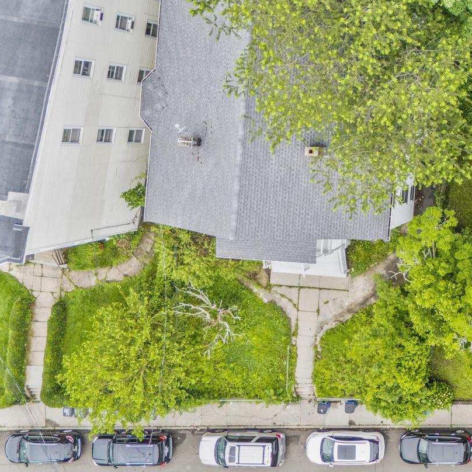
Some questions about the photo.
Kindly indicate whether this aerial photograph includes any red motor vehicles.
No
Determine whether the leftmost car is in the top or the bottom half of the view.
bottom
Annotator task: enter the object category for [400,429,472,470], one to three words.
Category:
car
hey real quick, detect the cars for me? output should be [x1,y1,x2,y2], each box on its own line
[199,429,289,472]
[306,429,387,471]
[7,429,86,468]
[400,429,472,470]
[91,430,176,472]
